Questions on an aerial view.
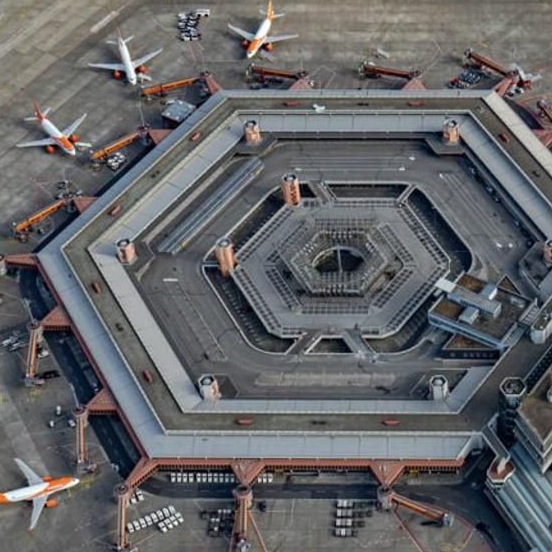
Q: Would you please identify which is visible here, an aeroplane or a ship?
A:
aeroplane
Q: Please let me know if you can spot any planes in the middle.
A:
No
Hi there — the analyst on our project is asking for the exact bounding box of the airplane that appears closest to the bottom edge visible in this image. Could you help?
[0,455,79,526]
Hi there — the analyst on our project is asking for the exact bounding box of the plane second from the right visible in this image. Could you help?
[89,29,159,84]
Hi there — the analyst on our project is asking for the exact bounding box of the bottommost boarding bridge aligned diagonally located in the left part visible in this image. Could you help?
[11,191,77,238]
